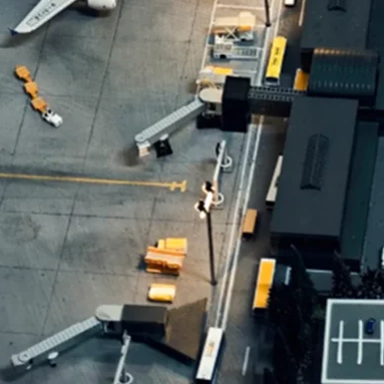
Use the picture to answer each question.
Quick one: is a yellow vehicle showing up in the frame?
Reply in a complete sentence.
Yes, the photo shows a yellow vehicle.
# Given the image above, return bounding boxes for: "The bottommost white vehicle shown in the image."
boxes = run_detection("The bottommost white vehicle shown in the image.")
[197,329,225,384]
